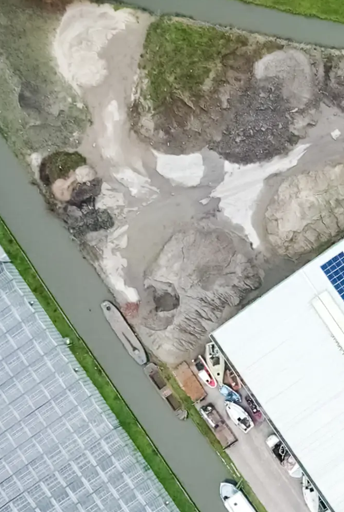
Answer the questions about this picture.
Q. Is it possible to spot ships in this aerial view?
Yes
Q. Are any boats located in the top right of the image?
No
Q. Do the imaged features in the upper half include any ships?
No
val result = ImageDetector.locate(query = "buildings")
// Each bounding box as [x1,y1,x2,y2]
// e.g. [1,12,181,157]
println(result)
[0,261,182,512]
[206,239,344,512]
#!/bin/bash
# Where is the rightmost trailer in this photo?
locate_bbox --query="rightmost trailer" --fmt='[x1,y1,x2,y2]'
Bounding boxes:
[200,402,239,447]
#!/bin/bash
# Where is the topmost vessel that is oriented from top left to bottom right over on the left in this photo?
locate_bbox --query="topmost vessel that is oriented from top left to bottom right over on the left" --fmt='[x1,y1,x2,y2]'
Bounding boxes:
[100,301,150,366]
